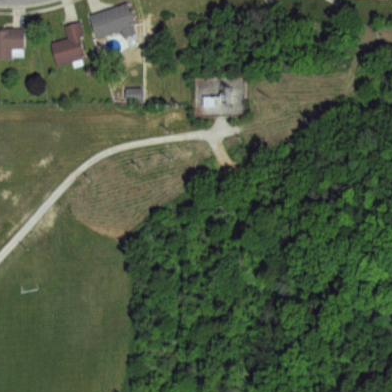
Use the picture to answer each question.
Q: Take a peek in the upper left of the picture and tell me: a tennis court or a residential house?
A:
residential house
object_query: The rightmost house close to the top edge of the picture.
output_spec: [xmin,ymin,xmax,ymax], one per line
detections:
[90,2,134,38]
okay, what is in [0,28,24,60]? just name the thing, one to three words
house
